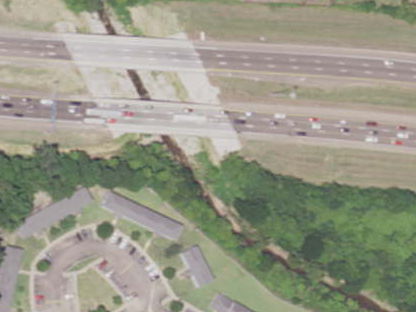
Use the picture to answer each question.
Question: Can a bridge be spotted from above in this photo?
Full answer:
Yes, there is a bridge in the image.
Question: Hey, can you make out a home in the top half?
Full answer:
No, no home is visible in the top half.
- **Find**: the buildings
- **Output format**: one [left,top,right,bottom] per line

[99,192,182,240]
[14,185,92,240]
[0,244,24,312]
[180,245,214,286]
[209,294,252,312]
